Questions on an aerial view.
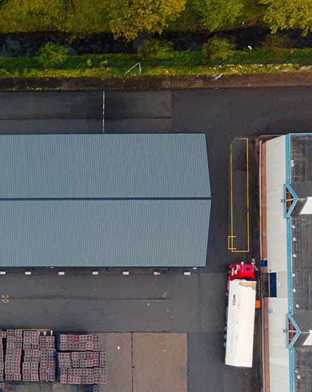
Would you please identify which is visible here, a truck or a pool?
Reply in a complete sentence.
This aerial view contains a truck.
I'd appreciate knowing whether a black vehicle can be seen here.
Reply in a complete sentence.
No, no black vehicle is visible in the scene.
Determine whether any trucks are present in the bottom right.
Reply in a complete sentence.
Yes, looking in the bottom right, one can make out a truck.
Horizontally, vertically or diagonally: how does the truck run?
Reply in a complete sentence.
In this picture, the truck lies vertically.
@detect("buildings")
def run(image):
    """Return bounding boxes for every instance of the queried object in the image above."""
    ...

[0,133,211,268]
[257,125,312,392]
